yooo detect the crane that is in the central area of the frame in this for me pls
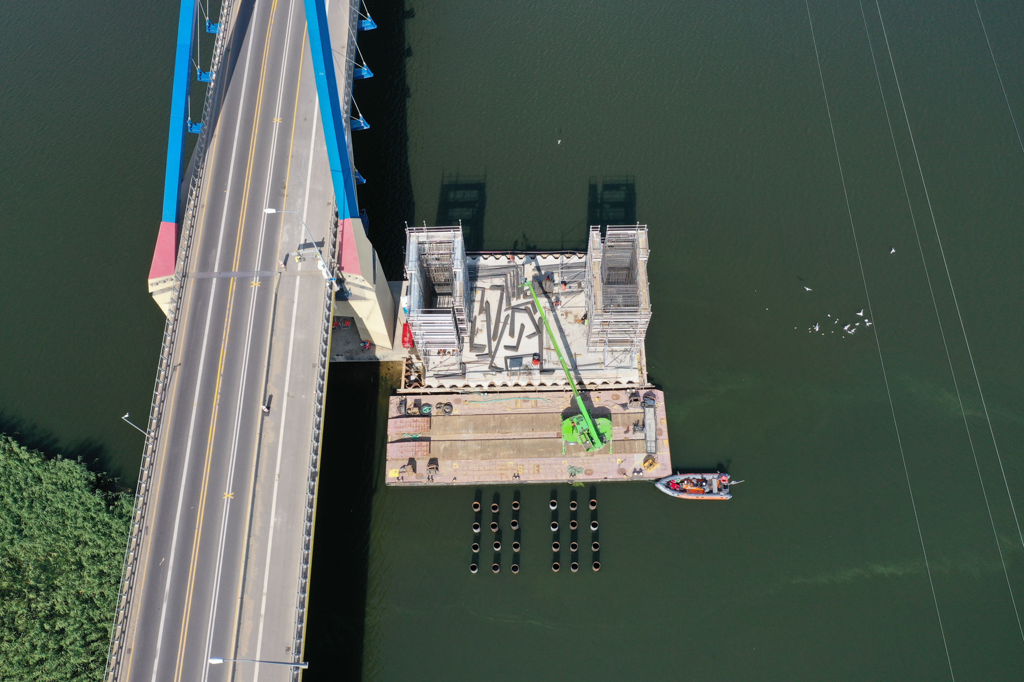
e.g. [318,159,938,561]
[518,280,614,458]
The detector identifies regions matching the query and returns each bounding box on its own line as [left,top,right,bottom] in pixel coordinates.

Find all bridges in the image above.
[98,0,409,682]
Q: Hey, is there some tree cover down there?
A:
No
